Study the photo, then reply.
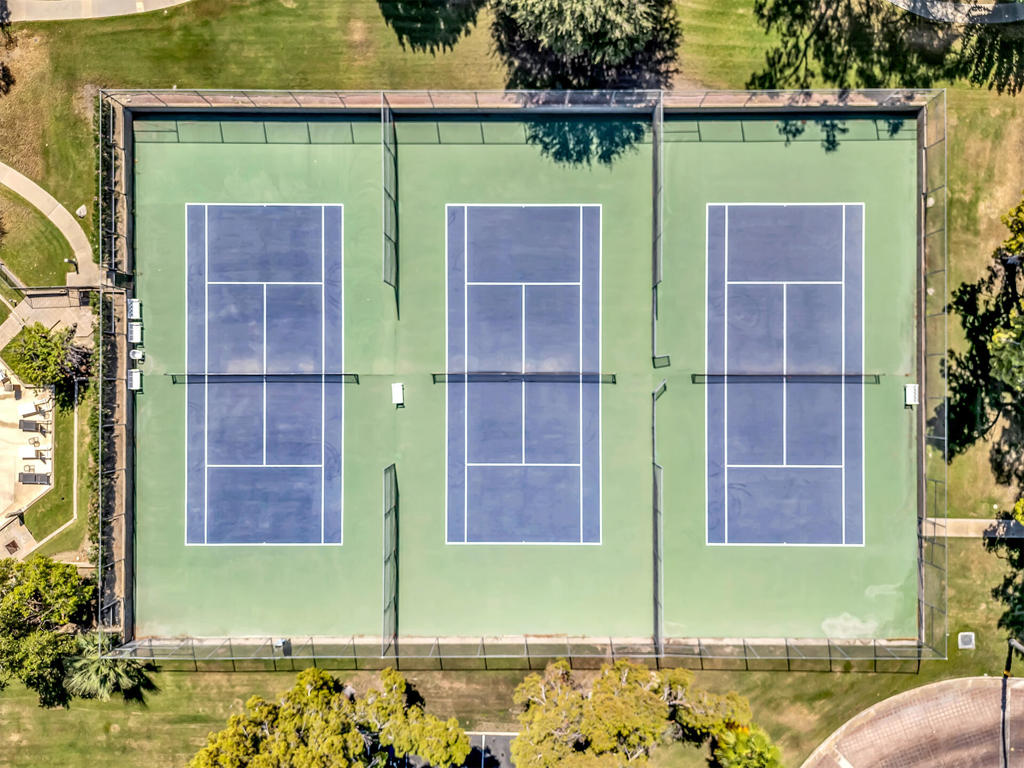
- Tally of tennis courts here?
three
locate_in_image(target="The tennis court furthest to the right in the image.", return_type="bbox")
[653,113,916,637]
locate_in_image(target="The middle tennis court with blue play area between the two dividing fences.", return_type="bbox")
[393,113,653,637]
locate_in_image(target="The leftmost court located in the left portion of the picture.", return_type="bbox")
[133,113,393,637]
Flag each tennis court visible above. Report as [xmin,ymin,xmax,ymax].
[133,113,393,637]
[653,113,916,637]
[393,113,653,637]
